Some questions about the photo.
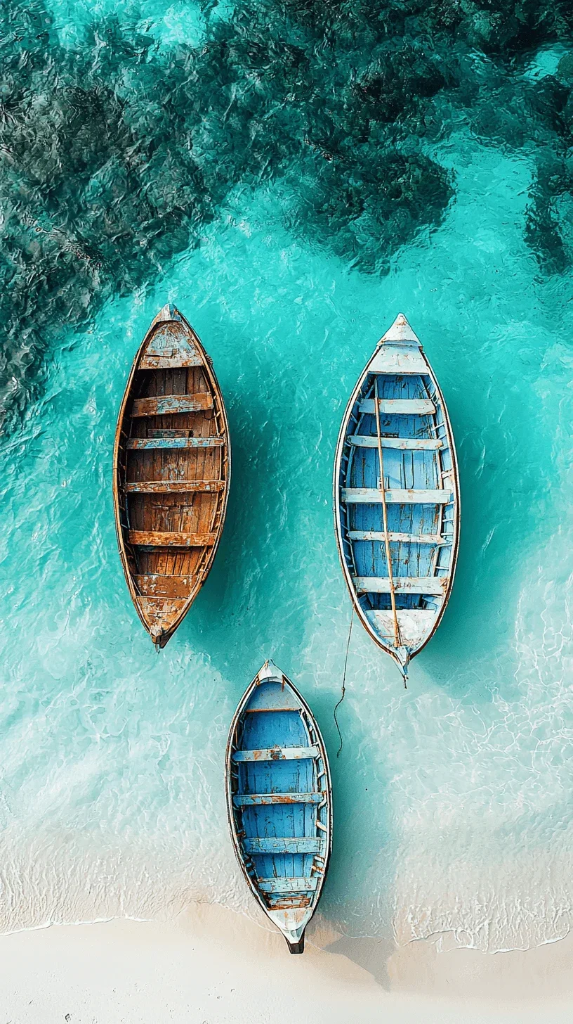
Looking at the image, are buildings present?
No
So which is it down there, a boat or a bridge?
boat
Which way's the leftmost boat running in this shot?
up and down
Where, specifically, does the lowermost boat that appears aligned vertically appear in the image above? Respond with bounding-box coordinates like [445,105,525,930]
[225,659,332,953]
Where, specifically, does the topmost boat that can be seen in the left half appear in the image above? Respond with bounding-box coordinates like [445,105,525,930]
[113,302,230,651]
